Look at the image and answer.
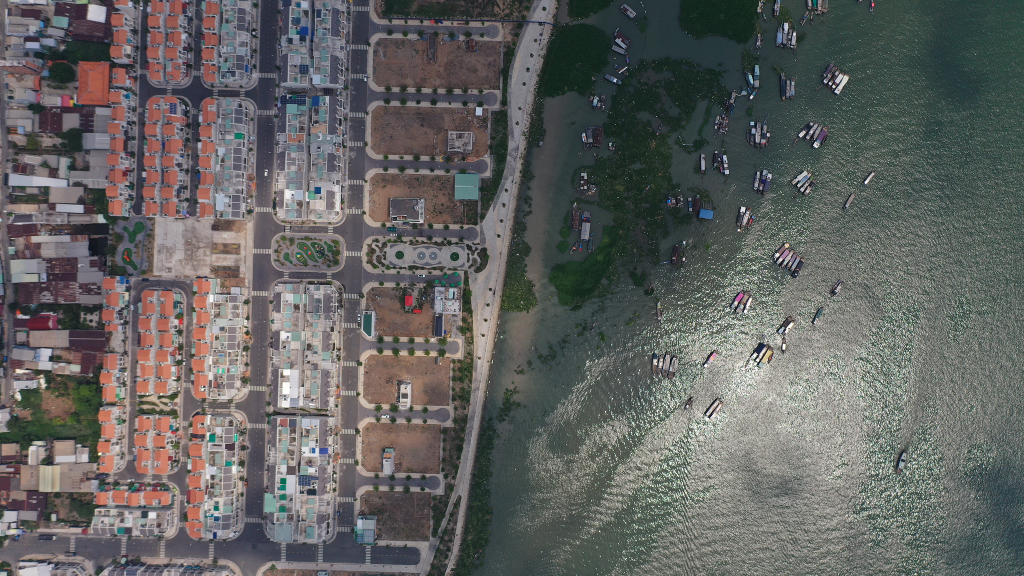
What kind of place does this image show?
residential area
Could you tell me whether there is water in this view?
Yes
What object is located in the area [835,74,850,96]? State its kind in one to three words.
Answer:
boat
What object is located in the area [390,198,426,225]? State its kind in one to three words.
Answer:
house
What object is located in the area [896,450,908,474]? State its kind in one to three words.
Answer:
ship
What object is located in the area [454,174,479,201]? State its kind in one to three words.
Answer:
building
